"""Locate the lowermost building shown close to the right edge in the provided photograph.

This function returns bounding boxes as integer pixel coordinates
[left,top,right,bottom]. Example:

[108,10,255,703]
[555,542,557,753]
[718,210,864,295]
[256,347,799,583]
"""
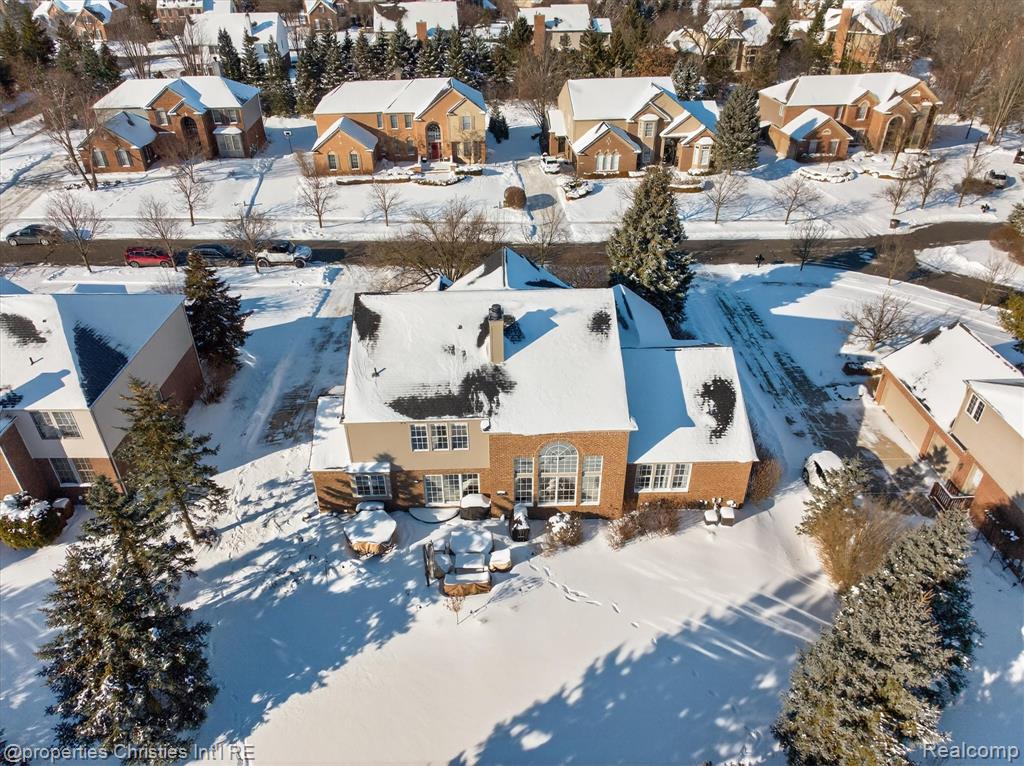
[876,313,1024,549]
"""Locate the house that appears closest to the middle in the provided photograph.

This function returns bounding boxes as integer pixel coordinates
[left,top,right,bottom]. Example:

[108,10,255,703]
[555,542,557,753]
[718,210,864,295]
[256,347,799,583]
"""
[303,247,759,520]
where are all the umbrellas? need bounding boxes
[420,546,439,583]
